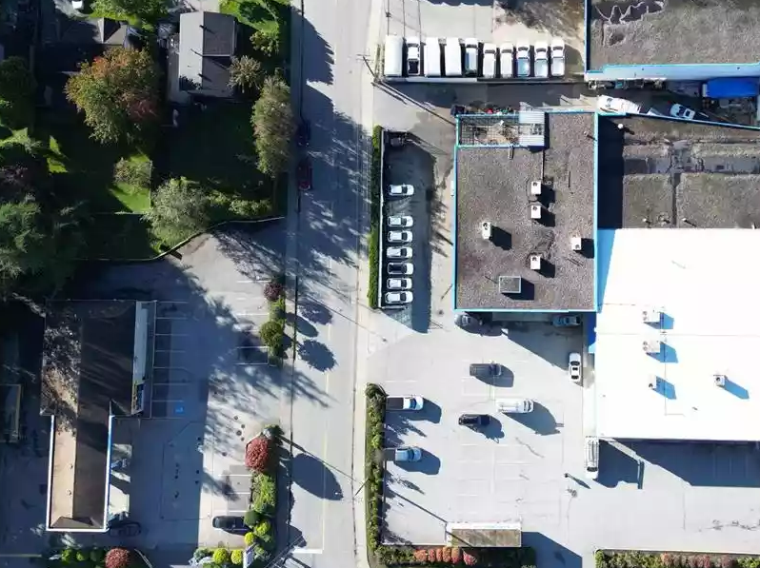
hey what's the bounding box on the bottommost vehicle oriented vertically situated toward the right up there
[585,435,600,476]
